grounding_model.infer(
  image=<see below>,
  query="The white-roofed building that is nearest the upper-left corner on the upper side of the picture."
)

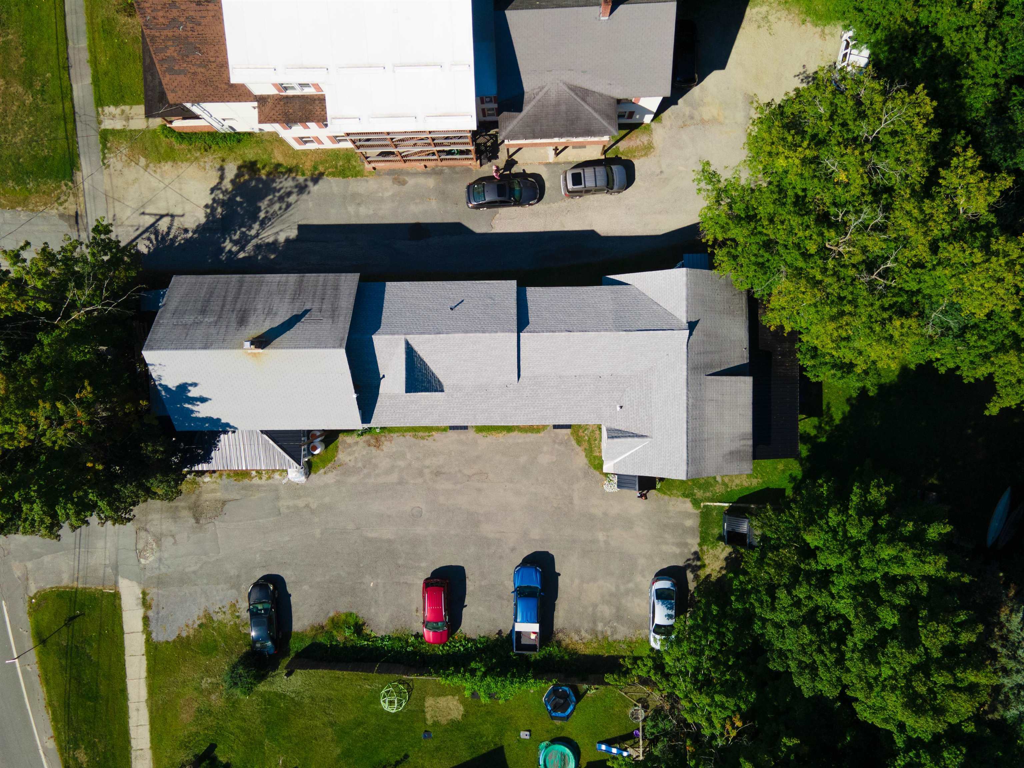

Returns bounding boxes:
[133,0,500,169]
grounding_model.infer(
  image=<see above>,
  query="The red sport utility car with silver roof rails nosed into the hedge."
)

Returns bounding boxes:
[420,577,452,643]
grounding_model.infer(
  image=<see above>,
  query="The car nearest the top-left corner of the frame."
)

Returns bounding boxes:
[465,175,538,211]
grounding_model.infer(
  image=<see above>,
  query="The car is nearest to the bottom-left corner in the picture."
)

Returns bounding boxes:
[243,579,281,655]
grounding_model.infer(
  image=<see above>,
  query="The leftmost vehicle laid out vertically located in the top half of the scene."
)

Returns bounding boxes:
[673,19,705,90]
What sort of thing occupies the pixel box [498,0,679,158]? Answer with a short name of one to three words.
house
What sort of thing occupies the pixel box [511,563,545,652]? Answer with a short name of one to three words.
truck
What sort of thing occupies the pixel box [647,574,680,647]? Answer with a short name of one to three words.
car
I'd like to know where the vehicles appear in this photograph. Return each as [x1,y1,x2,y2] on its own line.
[830,24,875,85]
[559,162,627,200]
[673,19,705,90]
[465,175,538,211]
[647,574,680,647]
[243,579,281,655]
[511,563,545,652]
[420,577,452,643]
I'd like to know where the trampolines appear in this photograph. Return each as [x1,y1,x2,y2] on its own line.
[542,684,579,725]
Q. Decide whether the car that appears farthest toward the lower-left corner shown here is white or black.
black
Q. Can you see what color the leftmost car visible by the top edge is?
black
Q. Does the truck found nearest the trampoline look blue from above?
Yes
